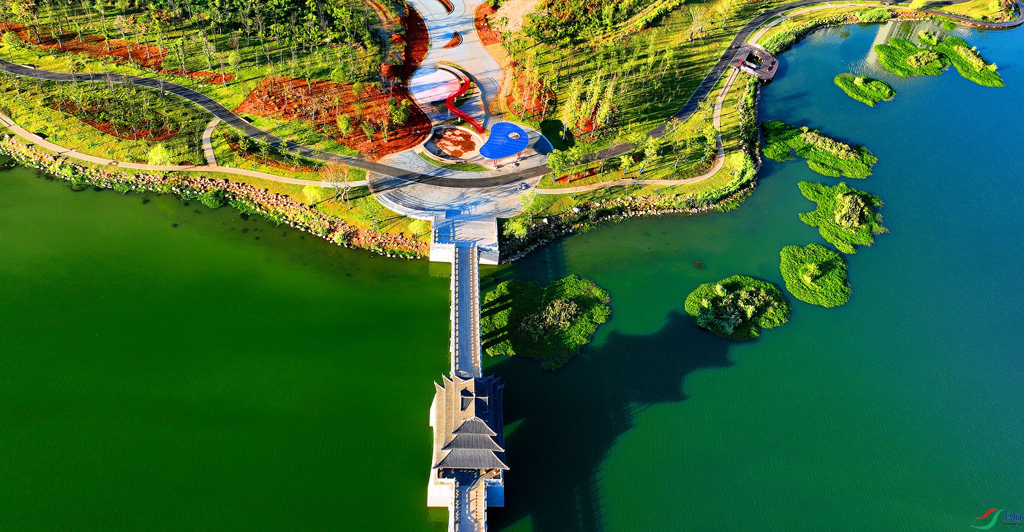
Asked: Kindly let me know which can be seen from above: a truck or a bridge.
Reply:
bridge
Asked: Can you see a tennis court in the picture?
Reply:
No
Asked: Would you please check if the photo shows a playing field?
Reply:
No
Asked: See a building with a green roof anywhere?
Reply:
No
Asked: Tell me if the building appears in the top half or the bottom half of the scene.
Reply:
bottom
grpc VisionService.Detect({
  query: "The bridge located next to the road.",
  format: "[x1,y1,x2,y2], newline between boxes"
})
[430,204,500,376]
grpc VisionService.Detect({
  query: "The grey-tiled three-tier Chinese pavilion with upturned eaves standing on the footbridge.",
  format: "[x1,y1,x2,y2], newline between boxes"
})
[432,368,511,524]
